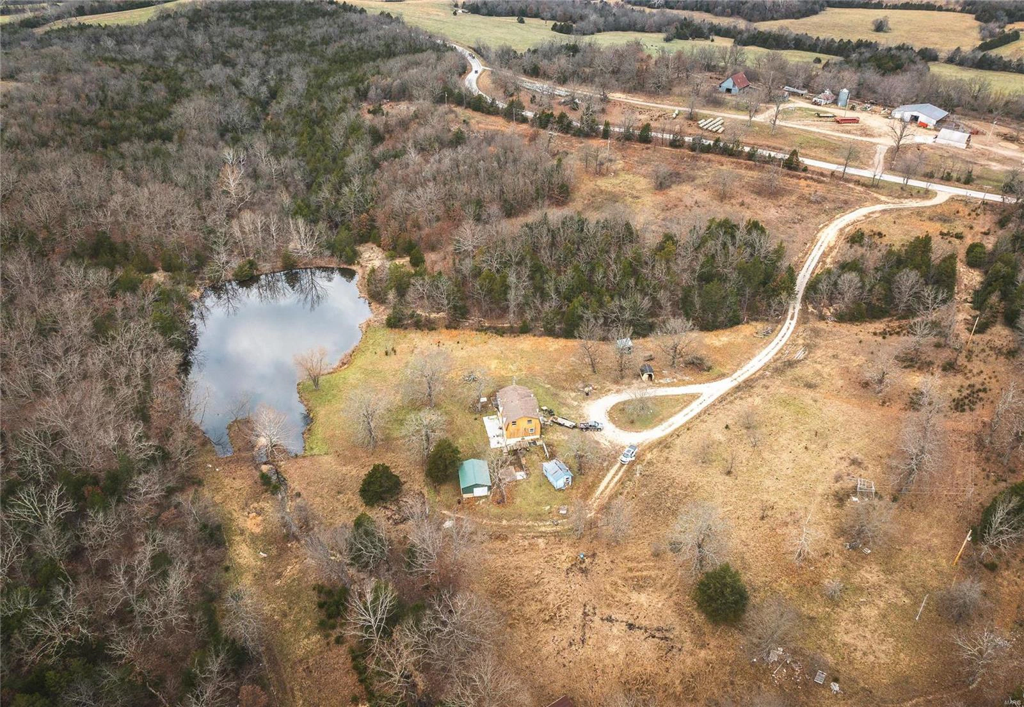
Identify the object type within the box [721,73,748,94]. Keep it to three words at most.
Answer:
barn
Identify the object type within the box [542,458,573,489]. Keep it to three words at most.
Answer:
shed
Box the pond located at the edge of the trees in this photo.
[184,267,371,465]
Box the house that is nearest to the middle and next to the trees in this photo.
[489,382,543,453]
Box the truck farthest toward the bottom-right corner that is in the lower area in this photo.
[617,442,640,464]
